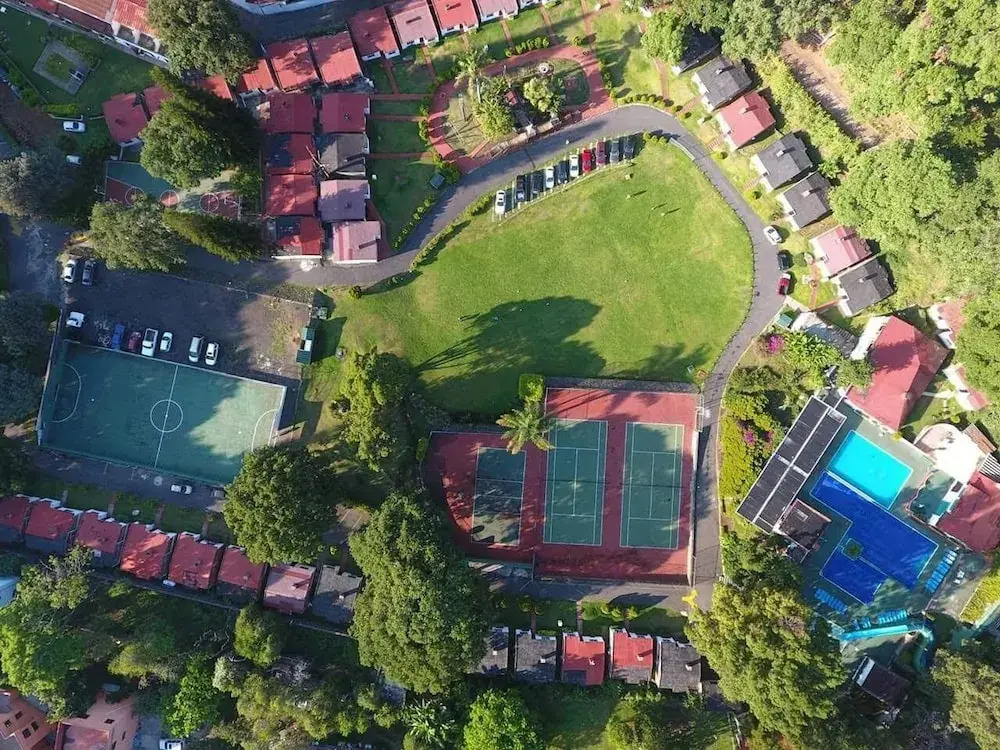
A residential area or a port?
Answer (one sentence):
The area seen from above is a residential area.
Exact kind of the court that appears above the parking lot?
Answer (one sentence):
In the photo, the court that appears above the parking lot shows up as a basketball court.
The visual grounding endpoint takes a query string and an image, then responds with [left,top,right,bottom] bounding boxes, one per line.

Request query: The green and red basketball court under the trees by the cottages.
[103,160,242,216]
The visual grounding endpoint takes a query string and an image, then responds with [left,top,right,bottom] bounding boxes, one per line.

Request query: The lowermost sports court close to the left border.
[42,344,285,485]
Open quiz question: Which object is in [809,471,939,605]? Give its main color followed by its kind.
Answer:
blue swimming pool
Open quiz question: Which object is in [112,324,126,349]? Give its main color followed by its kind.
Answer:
blue vehicle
